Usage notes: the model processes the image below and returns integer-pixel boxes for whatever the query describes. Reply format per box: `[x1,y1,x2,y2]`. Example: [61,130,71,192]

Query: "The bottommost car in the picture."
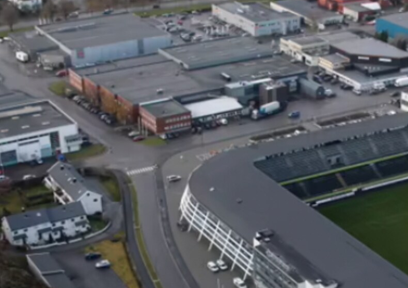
[232,276,248,288]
